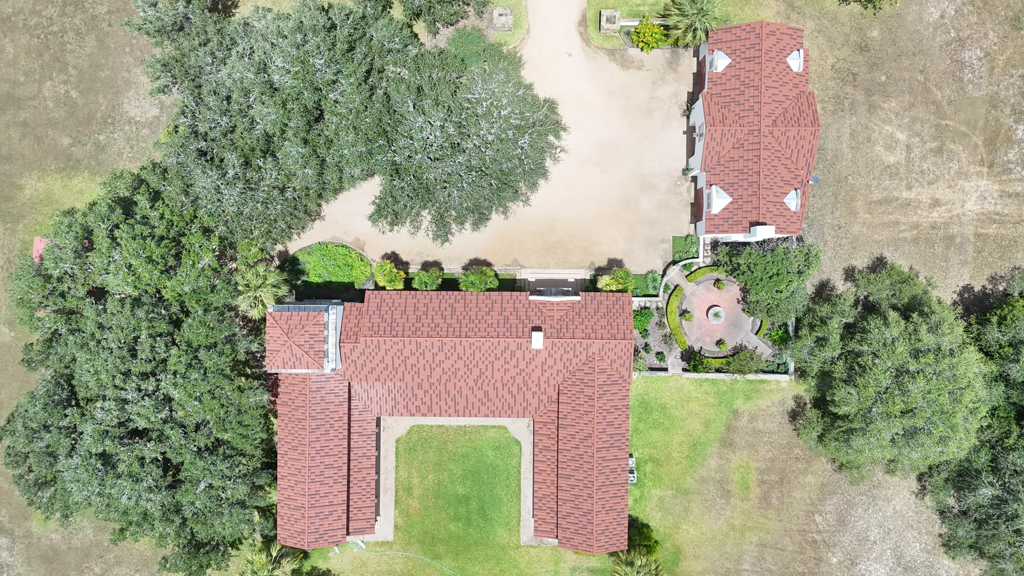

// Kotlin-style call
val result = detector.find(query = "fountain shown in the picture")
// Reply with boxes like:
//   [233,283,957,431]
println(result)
[707,306,725,324]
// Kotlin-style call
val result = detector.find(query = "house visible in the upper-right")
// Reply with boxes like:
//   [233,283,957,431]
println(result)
[690,19,821,241]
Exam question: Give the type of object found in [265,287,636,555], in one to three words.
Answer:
house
